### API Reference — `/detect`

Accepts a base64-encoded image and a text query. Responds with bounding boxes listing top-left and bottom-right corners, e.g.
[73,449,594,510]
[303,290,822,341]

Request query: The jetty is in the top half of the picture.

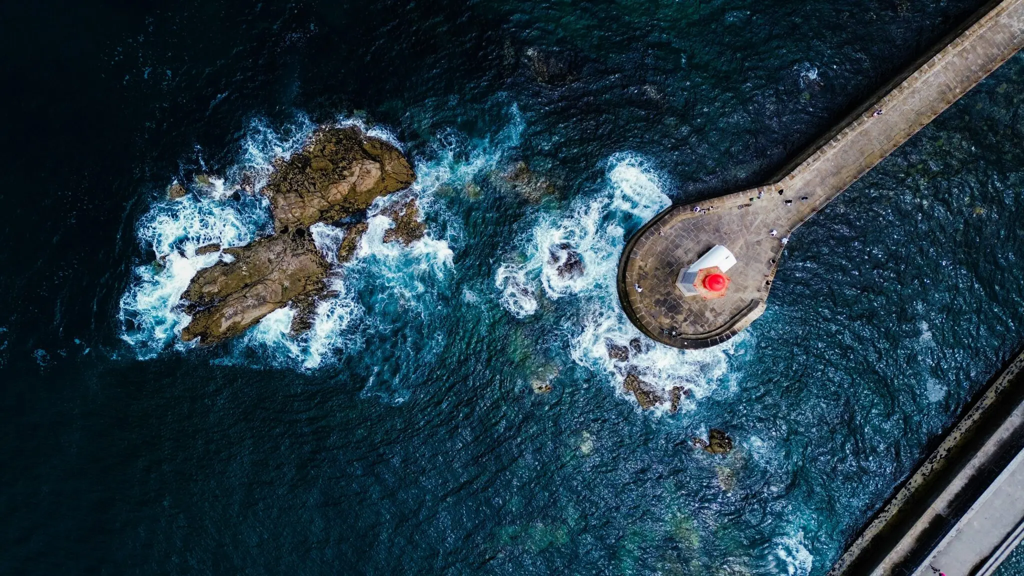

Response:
[617,0,1024,352]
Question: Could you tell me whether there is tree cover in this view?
No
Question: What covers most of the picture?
water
